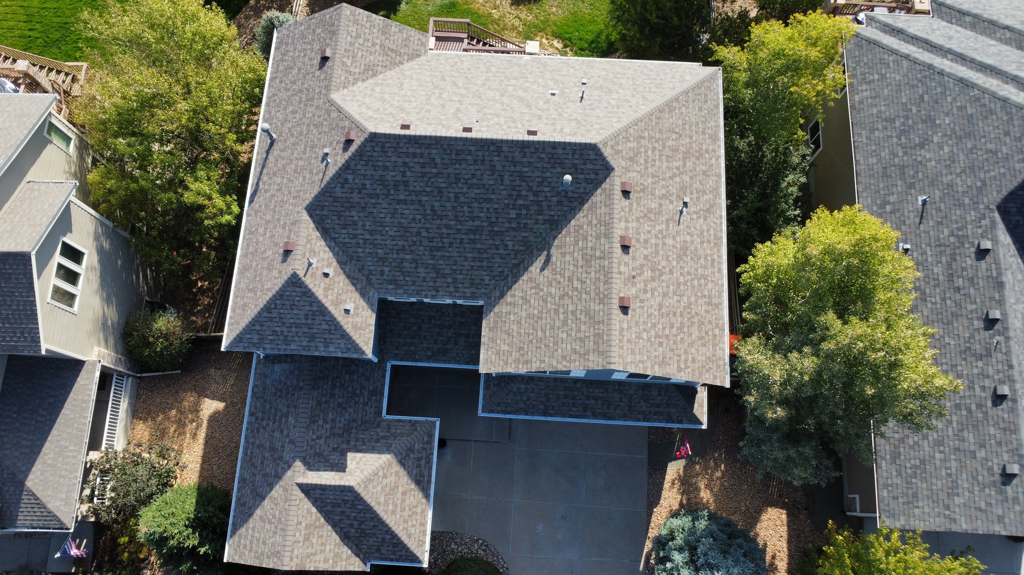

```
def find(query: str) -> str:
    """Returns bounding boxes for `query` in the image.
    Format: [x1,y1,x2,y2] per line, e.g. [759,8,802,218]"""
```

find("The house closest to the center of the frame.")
[219,3,732,572]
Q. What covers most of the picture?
buildings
